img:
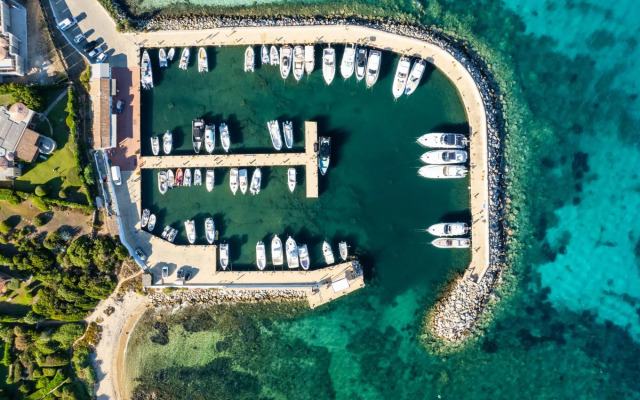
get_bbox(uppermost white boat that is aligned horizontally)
[409,132,471,148]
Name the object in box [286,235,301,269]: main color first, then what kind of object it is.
white boat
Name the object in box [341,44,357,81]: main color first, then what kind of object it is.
white boat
